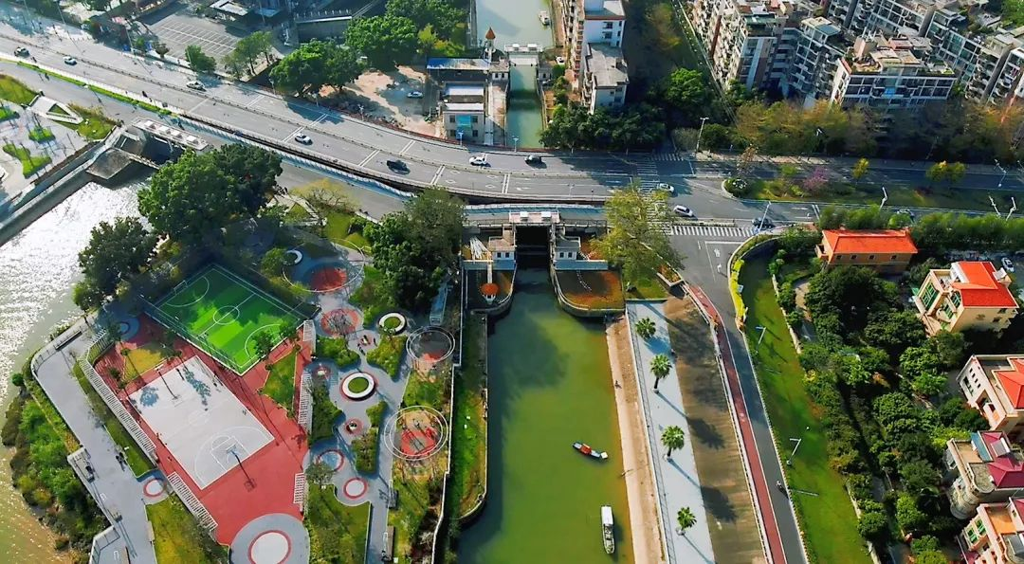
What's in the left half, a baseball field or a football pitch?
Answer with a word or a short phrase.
football pitch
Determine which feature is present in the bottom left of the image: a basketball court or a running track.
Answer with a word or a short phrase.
basketball court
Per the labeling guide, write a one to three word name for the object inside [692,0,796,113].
building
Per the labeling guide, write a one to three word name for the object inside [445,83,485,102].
shed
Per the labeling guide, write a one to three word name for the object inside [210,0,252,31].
building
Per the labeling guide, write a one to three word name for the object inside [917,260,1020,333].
house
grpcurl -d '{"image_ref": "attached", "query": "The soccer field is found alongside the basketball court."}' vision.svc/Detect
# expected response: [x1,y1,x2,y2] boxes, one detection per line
[138,252,306,376]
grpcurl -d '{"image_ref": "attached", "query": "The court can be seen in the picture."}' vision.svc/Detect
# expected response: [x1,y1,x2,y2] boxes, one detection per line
[126,355,273,489]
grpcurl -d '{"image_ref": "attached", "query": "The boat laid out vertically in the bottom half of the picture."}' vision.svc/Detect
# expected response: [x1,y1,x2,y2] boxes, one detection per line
[602,501,615,555]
